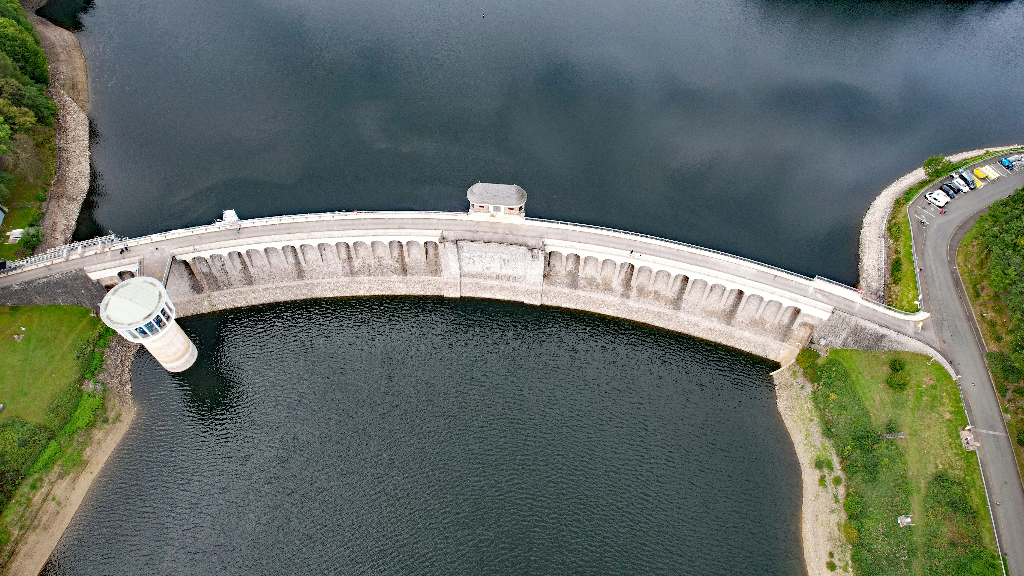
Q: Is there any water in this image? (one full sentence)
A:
Yes, there is water in the image.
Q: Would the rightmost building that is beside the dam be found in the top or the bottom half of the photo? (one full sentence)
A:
The rightmost building that is beside the dam sits in the top half of the picture.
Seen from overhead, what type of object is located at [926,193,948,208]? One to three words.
vehicle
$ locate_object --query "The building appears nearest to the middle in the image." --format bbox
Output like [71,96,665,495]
[467,178,529,218]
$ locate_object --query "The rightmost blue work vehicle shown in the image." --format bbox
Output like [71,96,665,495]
[1000,159,1020,176]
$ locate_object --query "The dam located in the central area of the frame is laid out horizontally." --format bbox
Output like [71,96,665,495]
[0,207,882,360]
